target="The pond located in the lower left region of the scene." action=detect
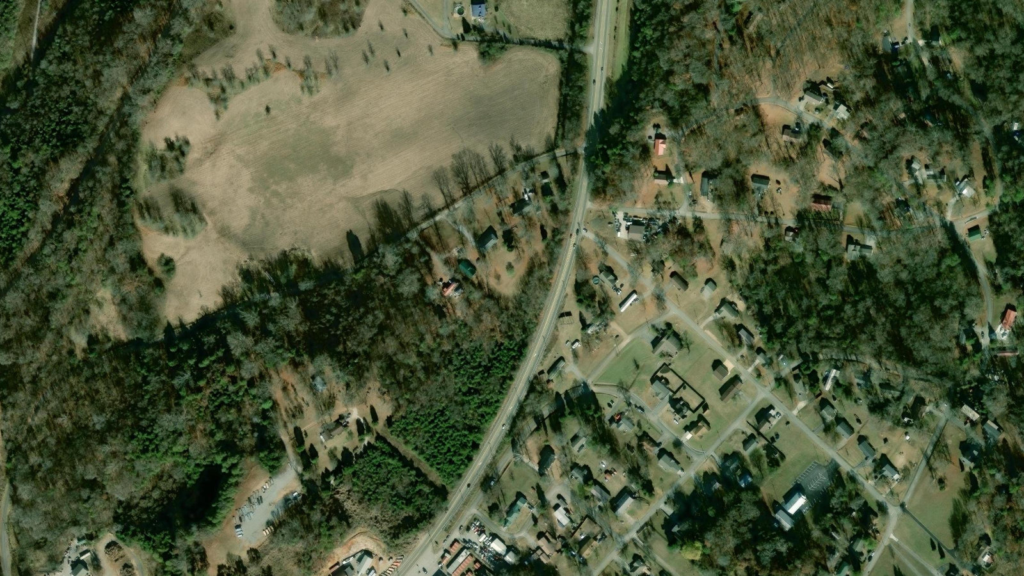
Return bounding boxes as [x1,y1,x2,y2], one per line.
[154,462,223,530]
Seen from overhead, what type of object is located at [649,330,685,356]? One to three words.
house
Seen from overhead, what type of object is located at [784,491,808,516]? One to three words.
building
